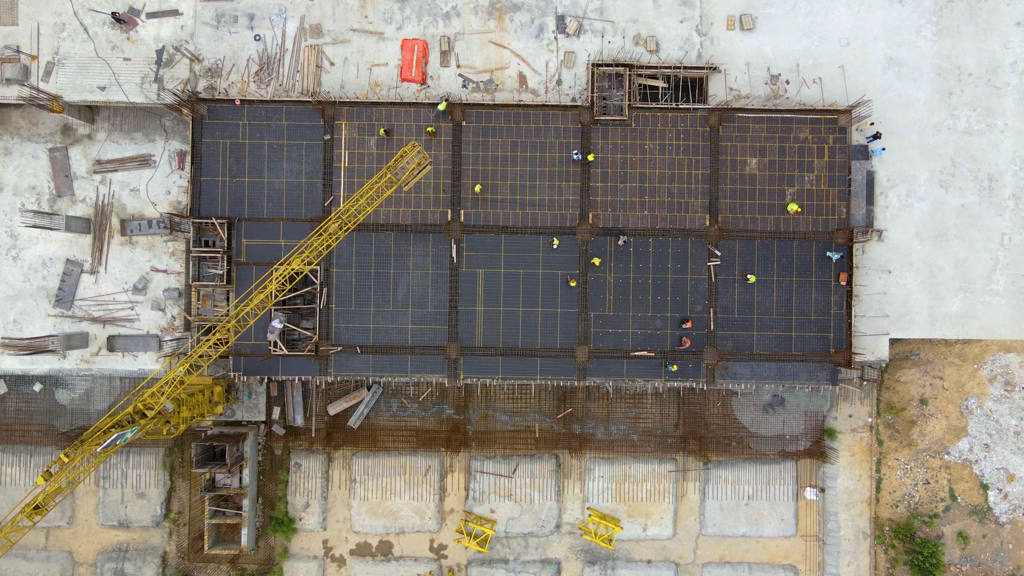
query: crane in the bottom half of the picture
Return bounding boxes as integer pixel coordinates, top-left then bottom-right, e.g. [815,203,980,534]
[0,138,439,565]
